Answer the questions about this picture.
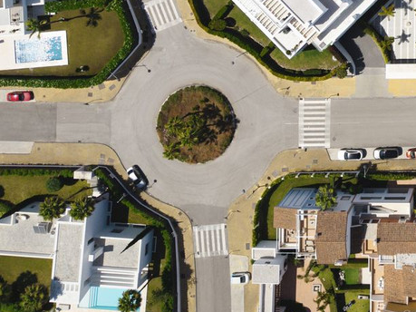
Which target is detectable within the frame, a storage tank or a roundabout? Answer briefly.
roundabout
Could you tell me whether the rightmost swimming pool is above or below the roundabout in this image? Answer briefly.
below it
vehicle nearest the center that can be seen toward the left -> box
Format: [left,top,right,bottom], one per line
[126,164,149,190]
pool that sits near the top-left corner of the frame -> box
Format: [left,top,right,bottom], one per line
[0,30,68,70]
